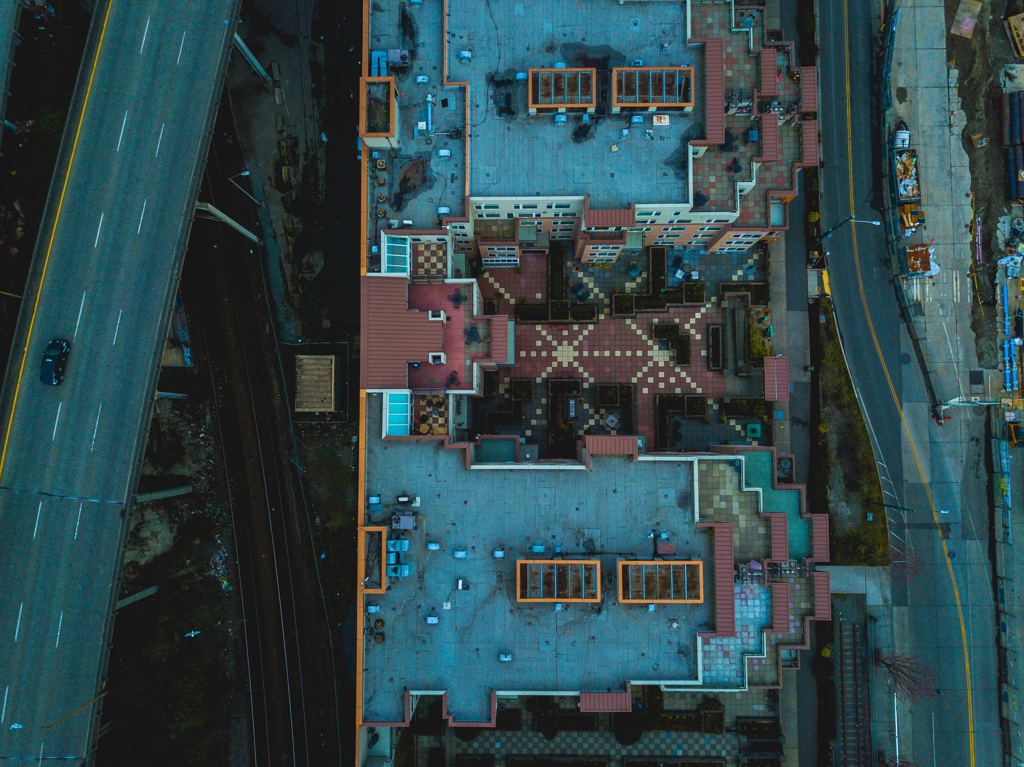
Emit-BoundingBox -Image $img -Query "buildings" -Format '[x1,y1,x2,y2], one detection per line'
[359,0,817,282]
[294,355,344,412]
[355,388,830,767]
